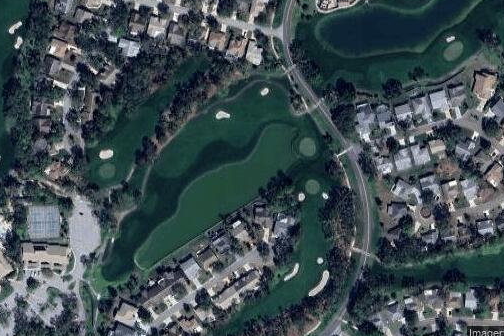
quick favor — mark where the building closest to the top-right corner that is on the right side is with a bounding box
[472,71,499,103]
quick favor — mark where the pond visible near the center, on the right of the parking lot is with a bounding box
[135,124,295,269]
